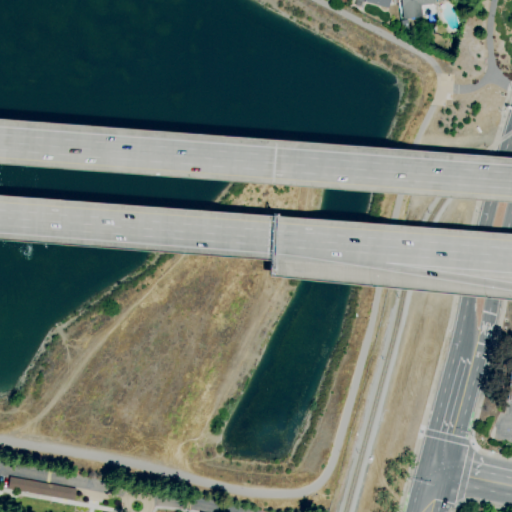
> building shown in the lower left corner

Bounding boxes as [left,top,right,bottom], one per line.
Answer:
[8,476,76,500]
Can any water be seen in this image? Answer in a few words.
Yes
